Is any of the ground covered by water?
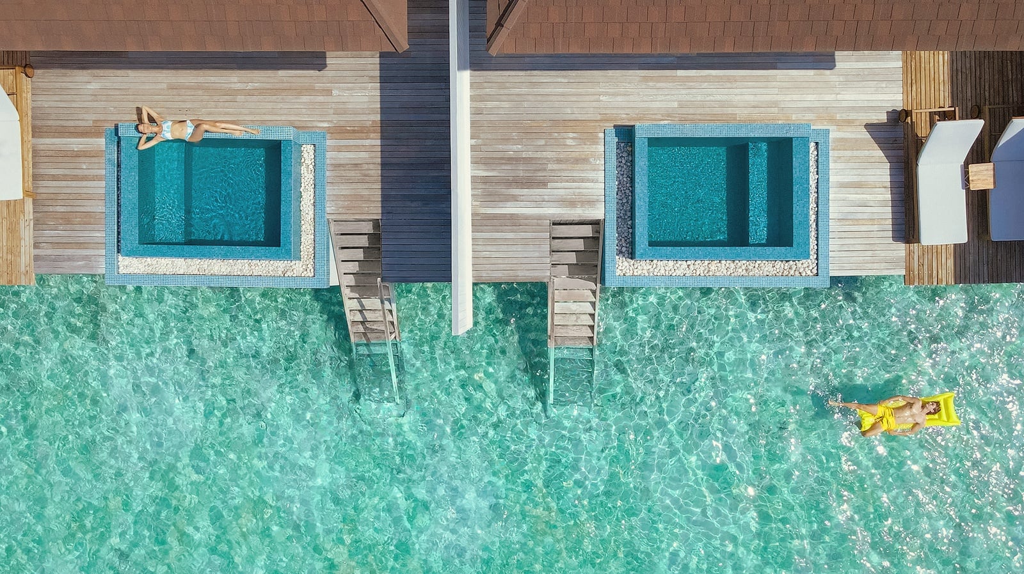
Yes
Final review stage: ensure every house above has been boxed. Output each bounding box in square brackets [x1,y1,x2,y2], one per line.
[0,0,413,58]
[481,0,1024,57]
